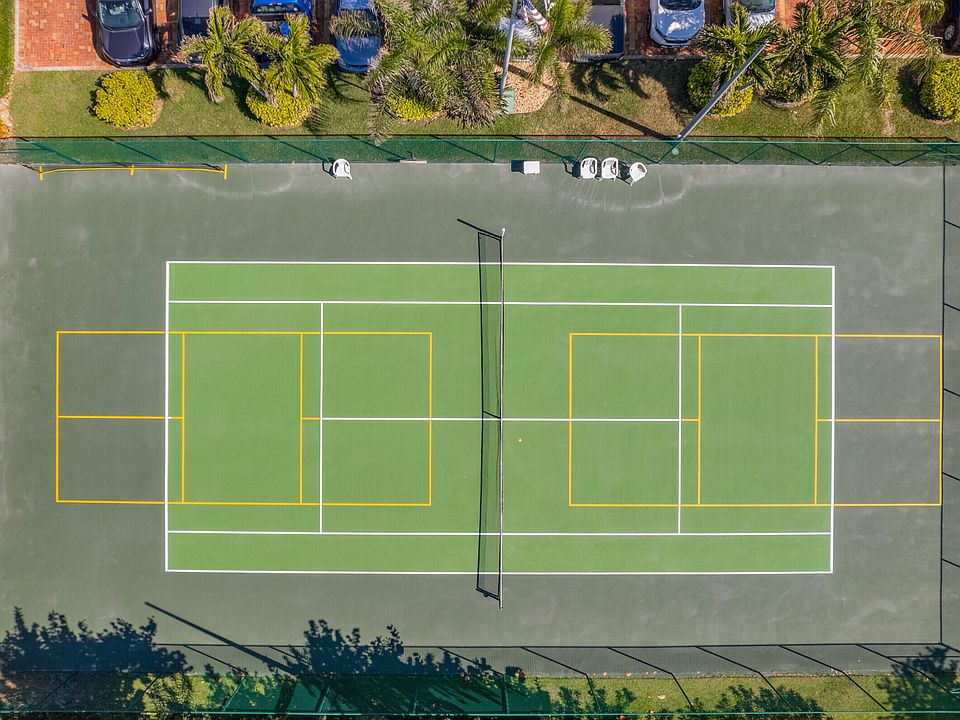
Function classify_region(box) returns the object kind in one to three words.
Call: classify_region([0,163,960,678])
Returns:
tennis court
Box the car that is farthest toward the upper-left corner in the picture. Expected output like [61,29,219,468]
[86,0,157,67]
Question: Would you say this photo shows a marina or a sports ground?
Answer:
sports ground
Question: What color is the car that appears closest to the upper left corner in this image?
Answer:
black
